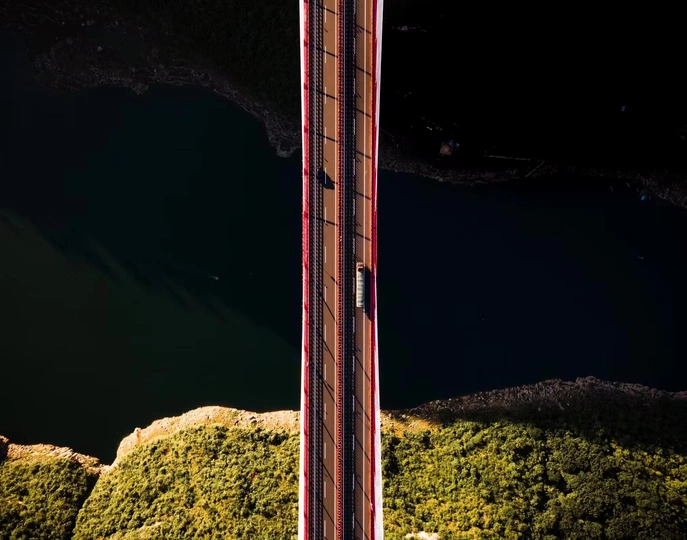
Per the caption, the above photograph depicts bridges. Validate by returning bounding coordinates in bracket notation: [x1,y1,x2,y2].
[299,0,384,540]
